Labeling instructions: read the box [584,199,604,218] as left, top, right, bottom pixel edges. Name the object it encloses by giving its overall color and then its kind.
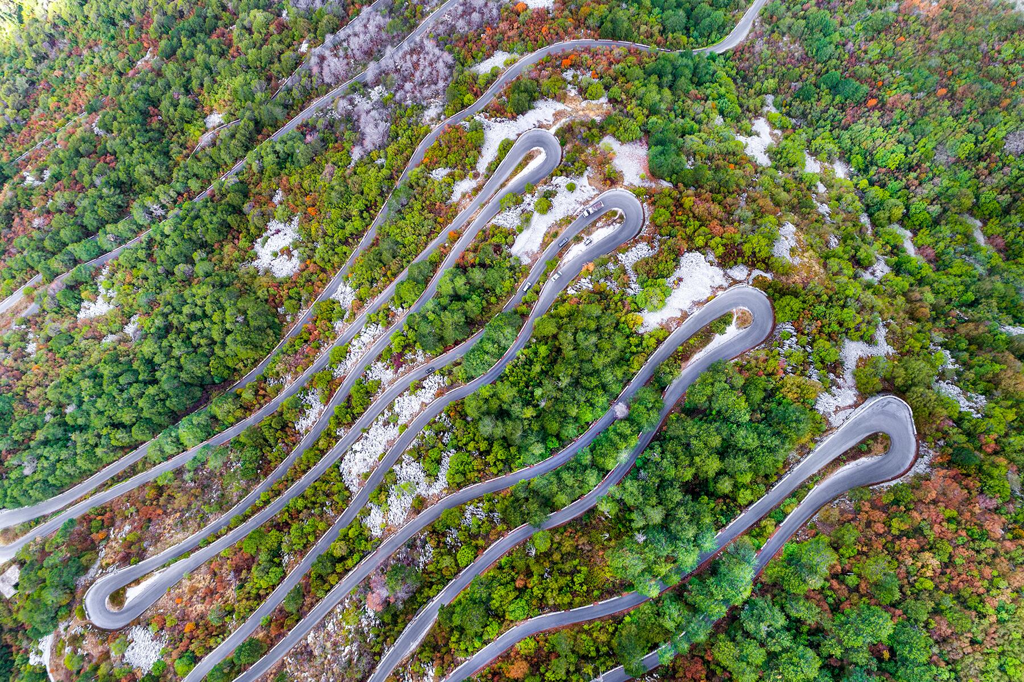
white vehicle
